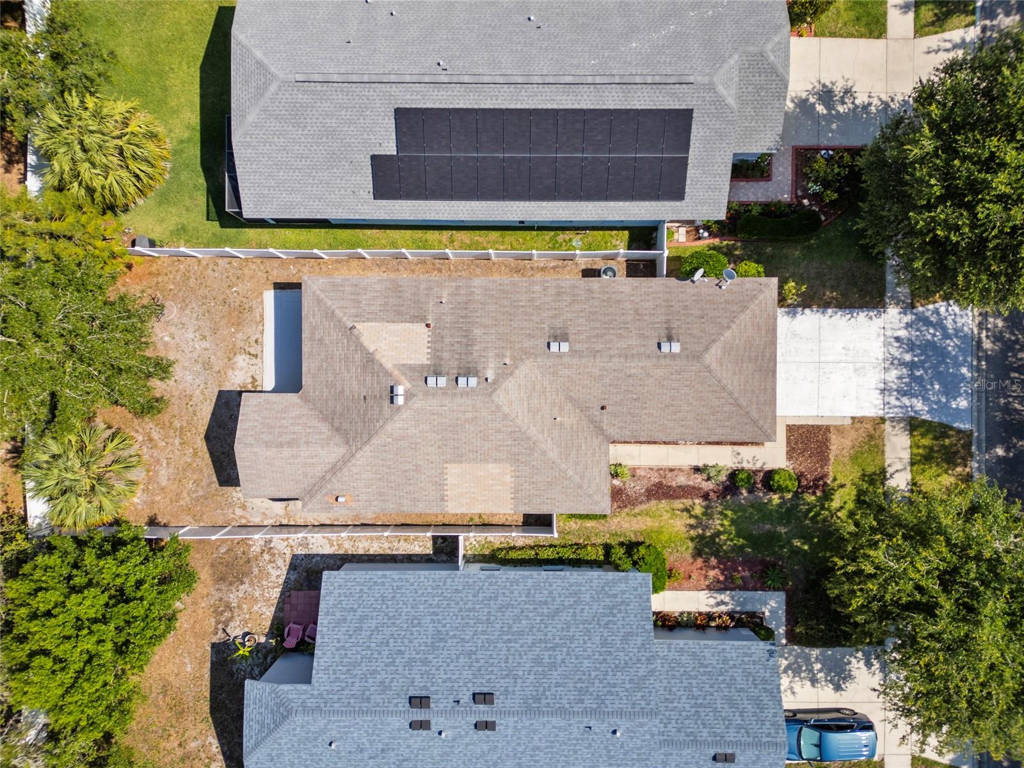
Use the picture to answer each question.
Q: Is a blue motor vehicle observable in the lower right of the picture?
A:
Yes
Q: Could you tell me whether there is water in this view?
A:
No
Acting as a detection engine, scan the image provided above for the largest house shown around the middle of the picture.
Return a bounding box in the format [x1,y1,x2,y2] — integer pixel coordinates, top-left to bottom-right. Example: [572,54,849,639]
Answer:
[232,275,779,515]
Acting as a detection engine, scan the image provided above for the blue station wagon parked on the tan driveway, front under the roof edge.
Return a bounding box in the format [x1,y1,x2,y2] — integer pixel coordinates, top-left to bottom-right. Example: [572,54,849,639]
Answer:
[785,708,877,766]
